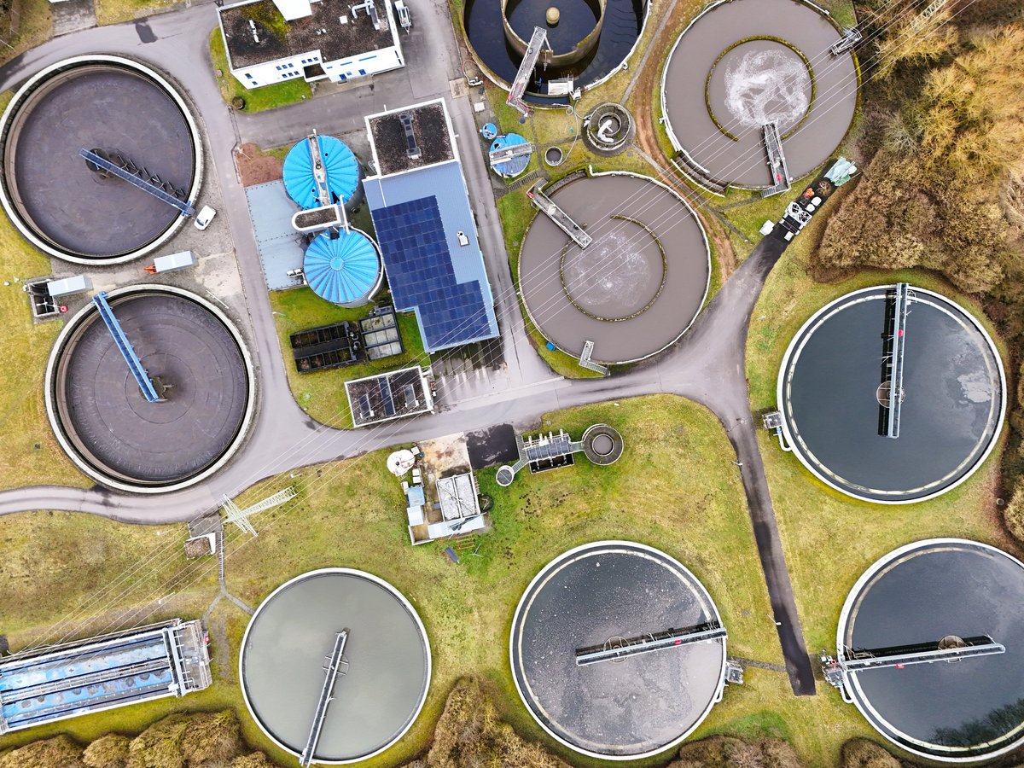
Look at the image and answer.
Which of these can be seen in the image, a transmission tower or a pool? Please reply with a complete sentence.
The image shows a transmission tower.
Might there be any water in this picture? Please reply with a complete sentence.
Yes, there's water in this view.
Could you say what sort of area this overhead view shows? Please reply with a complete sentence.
It's an industrial area.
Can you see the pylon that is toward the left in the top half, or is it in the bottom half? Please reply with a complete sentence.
You can find the pylon that is toward the left in the bottom half.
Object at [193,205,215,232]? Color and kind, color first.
white vehicle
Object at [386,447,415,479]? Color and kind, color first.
white storage tank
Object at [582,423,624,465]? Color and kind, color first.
gray storage tank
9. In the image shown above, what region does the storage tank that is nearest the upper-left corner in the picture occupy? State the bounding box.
[0,56,205,264]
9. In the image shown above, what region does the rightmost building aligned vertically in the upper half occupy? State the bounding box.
[362,98,500,354]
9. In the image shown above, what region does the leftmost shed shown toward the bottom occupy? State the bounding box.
[185,530,220,559]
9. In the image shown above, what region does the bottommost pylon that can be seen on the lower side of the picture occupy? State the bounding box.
[221,481,303,538]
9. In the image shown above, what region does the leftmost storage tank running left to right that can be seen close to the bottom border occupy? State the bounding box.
[0,618,221,738]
